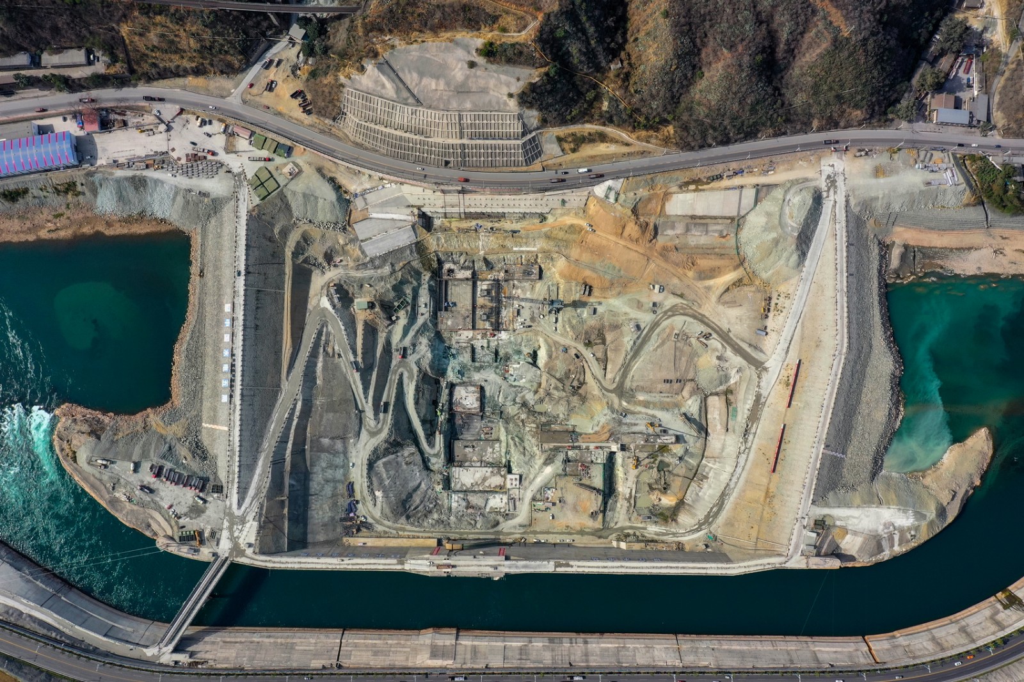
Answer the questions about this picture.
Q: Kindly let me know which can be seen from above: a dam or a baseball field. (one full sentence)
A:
The one in the frame is a dam.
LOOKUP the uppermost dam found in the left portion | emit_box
[168,164,288,539]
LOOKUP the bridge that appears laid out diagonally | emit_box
[158,549,234,653]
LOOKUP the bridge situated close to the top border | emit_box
[208,0,352,25]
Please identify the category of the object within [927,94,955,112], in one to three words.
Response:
building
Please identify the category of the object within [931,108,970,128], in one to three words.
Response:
building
